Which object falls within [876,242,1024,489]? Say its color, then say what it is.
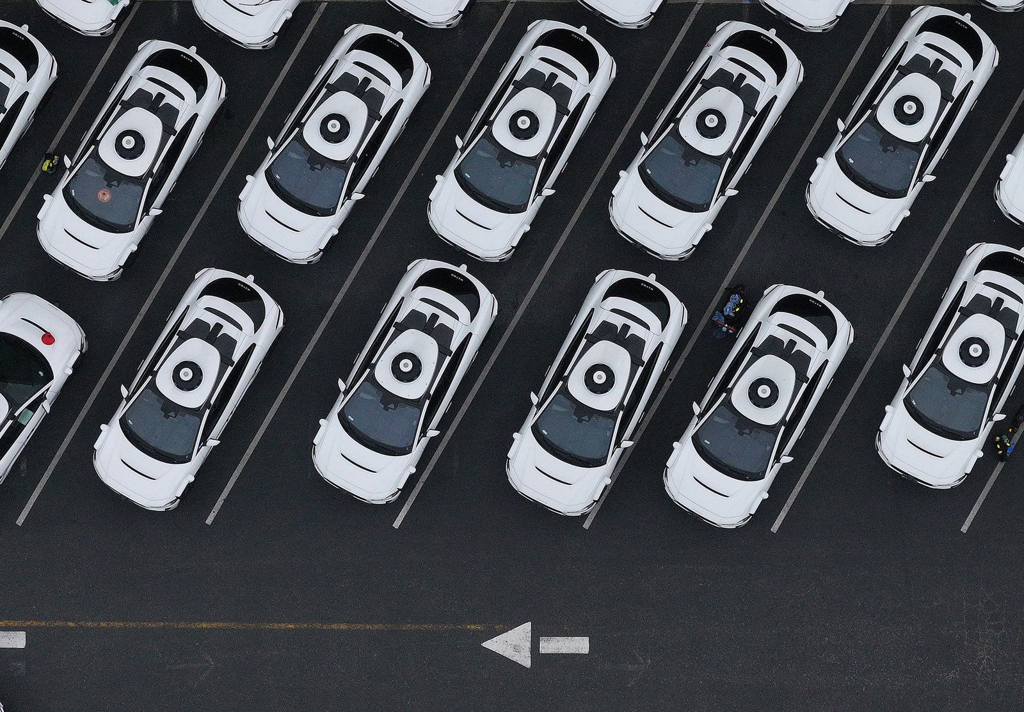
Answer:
white car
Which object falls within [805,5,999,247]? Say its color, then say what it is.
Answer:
white car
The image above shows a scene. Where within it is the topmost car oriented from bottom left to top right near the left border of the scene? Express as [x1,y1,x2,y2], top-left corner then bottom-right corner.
[36,38,228,282]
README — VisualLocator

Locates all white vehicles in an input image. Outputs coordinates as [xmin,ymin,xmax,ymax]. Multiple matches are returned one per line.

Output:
[36,38,228,282]
[92,267,285,511]
[237,23,433,265]
[427,18,617,262]
[0,292,86,484]
[34,0,135,36]
[805,5,999,247]
[996,136,1024,229]
[192,0,302,49]
[608,19,804,260]
[312,258,499,504]
[382,0,472,28]
[505,269,687,516]
[663,283,854,528]
[758,0,856,32]
[876,242,1024,489]
[575,0,666,29]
